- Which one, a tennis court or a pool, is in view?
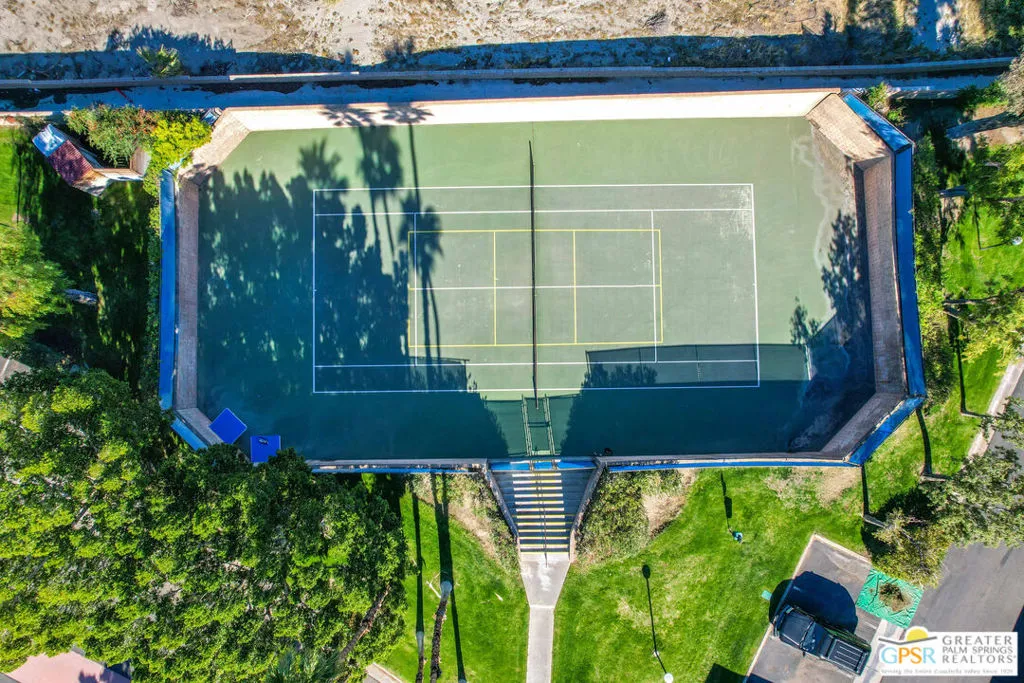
tennis court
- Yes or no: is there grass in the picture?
Yes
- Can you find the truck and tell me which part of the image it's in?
bottom right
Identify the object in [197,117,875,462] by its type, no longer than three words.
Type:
tennis court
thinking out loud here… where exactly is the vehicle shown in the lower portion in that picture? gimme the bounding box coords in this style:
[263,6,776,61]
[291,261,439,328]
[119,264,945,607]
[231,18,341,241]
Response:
[764,601,875,683]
